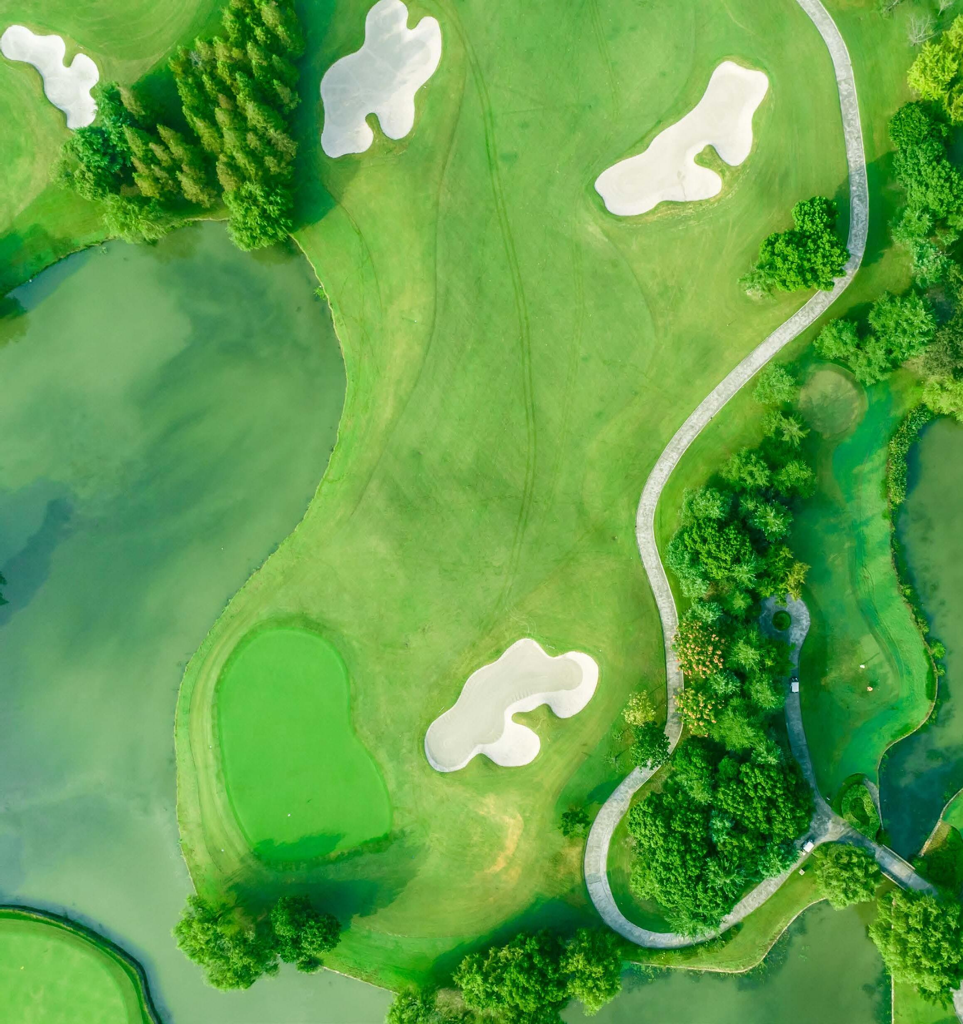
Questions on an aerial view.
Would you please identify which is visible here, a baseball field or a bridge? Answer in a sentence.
Looking from above, you can make out a bridge.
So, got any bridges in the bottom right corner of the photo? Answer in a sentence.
Yes, a bridge is visible in the bottom right corner of the photo.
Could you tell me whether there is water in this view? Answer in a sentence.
Yes, water can be seen from above here.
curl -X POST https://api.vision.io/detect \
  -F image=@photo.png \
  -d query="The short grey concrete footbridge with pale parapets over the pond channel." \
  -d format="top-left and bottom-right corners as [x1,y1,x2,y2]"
[876,843,928,892]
